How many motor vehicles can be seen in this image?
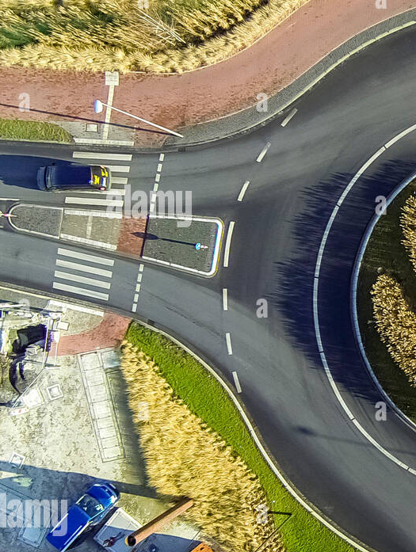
2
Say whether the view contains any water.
No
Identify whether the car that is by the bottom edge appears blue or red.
blue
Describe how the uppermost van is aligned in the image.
from left to right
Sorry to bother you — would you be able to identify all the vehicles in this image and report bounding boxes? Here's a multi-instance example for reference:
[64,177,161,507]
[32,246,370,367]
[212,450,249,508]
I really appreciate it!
[49,481,124,549]
[39,160,113,194]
